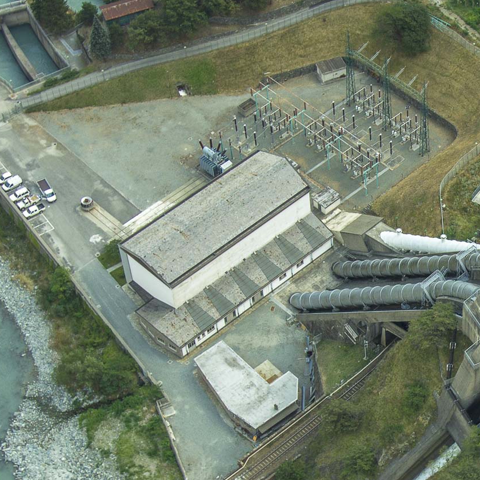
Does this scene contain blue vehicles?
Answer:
No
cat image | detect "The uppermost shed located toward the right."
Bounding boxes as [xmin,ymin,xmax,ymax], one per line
[316,57,345,81]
